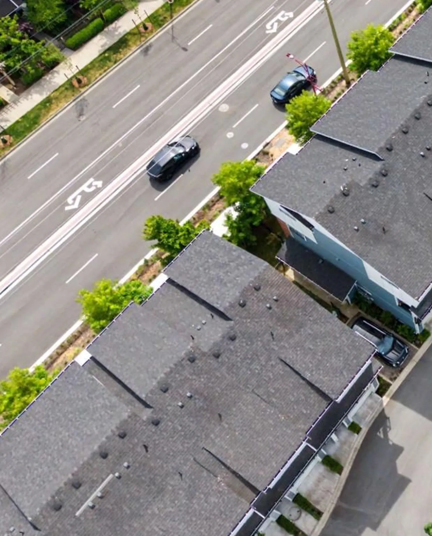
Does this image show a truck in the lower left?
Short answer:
No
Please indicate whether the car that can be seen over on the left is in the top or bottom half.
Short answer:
top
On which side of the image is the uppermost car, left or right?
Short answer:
right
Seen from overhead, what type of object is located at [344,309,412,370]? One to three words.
truck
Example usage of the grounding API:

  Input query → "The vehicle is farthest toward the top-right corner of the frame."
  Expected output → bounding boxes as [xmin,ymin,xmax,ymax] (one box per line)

[267,64,316,108]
